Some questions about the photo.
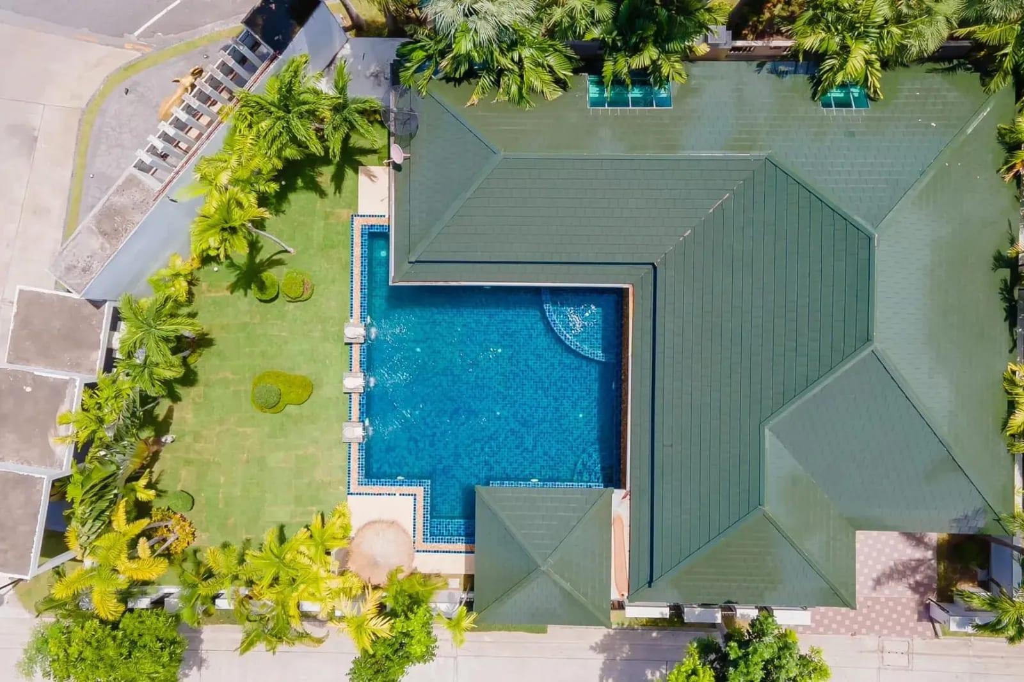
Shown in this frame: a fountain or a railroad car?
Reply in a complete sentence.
There is a fountain in the scene.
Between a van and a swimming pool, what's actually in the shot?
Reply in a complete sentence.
I can see a swimming pool in this picture.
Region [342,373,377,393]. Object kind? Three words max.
fountain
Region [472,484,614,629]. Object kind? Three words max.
building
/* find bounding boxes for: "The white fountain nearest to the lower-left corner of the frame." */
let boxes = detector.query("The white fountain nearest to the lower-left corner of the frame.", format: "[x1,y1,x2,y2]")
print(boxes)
[341,422,379,442]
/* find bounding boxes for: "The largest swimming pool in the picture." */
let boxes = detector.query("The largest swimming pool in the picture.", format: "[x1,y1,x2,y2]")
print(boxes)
[347,214,622,554]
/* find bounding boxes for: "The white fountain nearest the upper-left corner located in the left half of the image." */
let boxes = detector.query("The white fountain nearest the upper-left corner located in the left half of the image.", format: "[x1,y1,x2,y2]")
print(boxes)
[343,324,378,344]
